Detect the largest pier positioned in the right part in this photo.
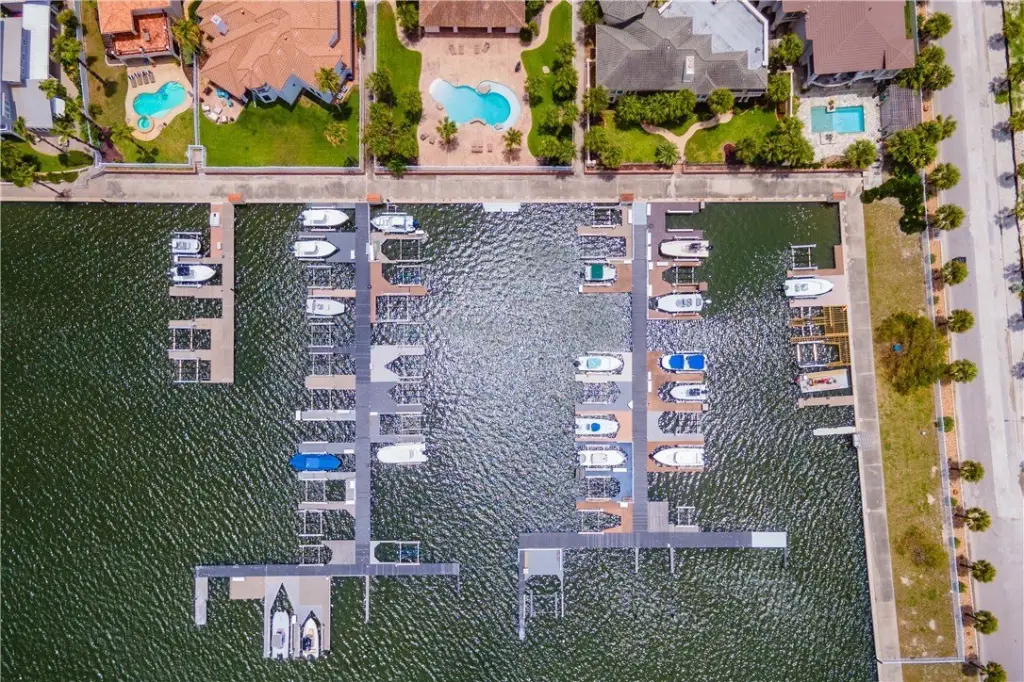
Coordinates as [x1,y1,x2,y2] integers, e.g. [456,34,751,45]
[519,203,786,548]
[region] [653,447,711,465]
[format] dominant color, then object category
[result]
white boat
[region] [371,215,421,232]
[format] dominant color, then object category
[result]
white boat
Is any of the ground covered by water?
Yes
